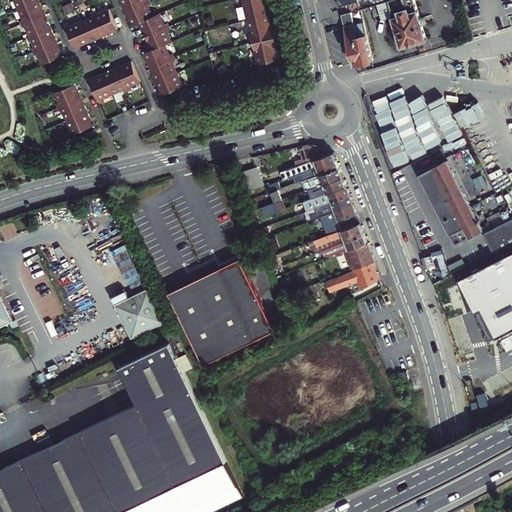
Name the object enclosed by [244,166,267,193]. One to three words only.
shed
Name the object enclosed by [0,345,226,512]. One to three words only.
warehouse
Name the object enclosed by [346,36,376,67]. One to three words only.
house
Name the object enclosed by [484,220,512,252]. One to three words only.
building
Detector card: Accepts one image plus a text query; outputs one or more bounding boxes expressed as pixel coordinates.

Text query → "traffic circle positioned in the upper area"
[299,78,364,144]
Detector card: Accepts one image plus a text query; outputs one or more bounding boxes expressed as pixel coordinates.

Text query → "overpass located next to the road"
[320,414,512,512]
